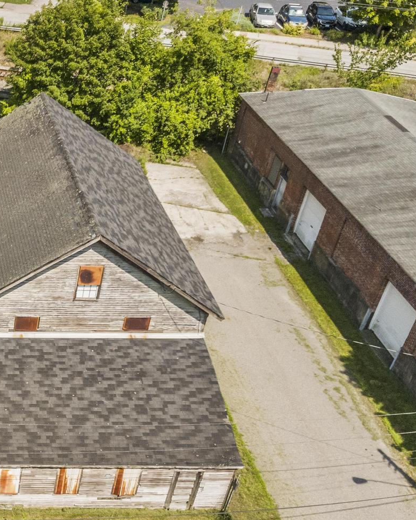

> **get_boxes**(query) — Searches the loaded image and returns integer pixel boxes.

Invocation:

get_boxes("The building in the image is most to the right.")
[222,63,416,407]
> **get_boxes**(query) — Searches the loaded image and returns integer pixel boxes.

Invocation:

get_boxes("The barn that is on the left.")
[0,89,243,509]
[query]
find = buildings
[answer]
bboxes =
[0,89,243,509]
[222,63,416,407]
